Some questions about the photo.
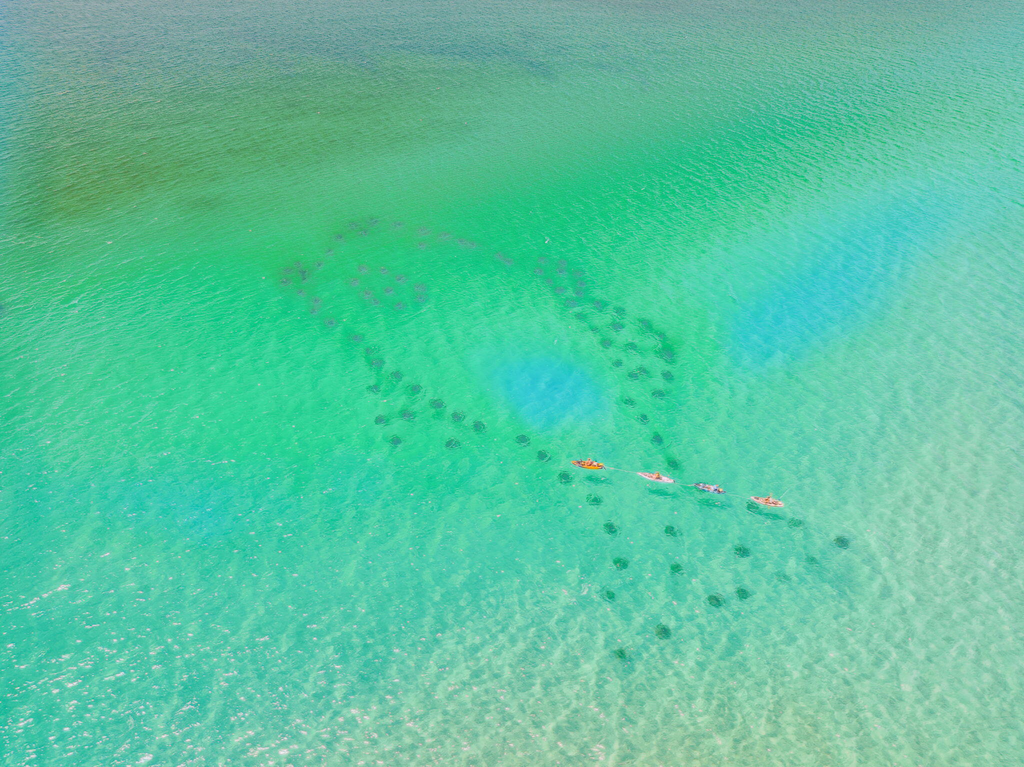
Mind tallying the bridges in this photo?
0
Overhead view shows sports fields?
No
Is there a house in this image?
No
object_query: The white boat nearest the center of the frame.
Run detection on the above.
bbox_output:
[637,471,677,485]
